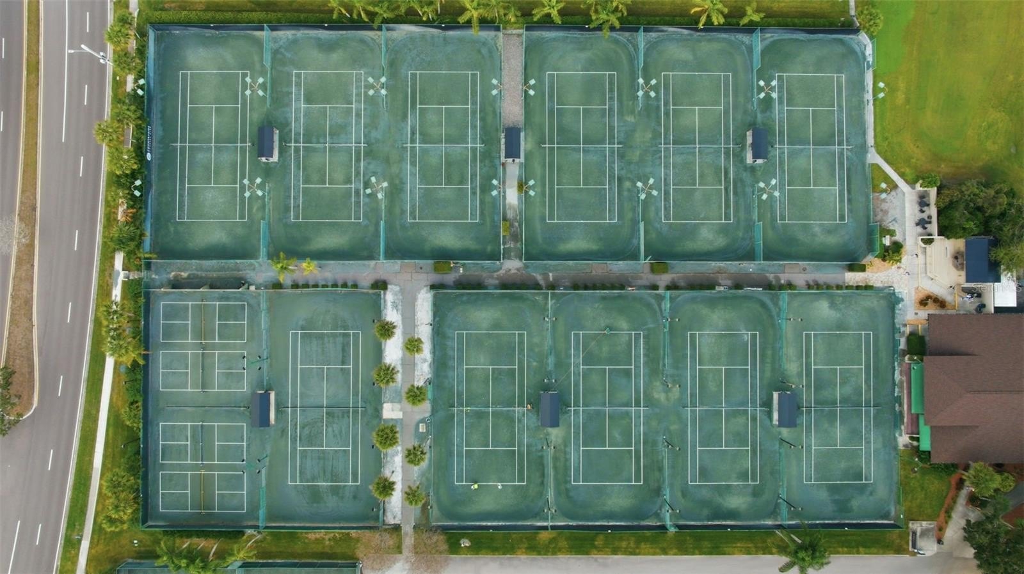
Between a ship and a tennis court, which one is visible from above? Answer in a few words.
tennis court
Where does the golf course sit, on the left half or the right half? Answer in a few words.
right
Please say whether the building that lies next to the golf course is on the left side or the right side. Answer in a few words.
right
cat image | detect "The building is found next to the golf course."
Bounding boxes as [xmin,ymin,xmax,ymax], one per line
[910,313,1024,463]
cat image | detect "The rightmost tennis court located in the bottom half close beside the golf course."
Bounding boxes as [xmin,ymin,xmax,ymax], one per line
[780,291,895,523]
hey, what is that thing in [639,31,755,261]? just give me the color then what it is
green tennis court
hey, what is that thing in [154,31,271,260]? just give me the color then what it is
green tennis court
